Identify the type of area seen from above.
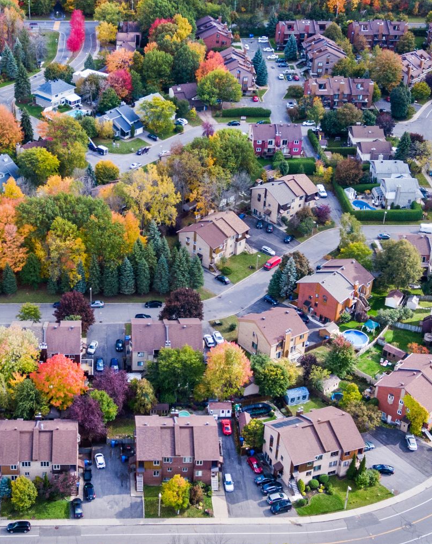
residential area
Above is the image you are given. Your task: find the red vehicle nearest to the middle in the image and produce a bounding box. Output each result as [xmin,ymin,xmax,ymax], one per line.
[264,252,282,266]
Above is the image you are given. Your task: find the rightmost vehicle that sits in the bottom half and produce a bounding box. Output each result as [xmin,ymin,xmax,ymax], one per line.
[406,432,419,448]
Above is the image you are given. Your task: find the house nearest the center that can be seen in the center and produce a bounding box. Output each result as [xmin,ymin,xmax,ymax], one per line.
[182,210,256,270]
